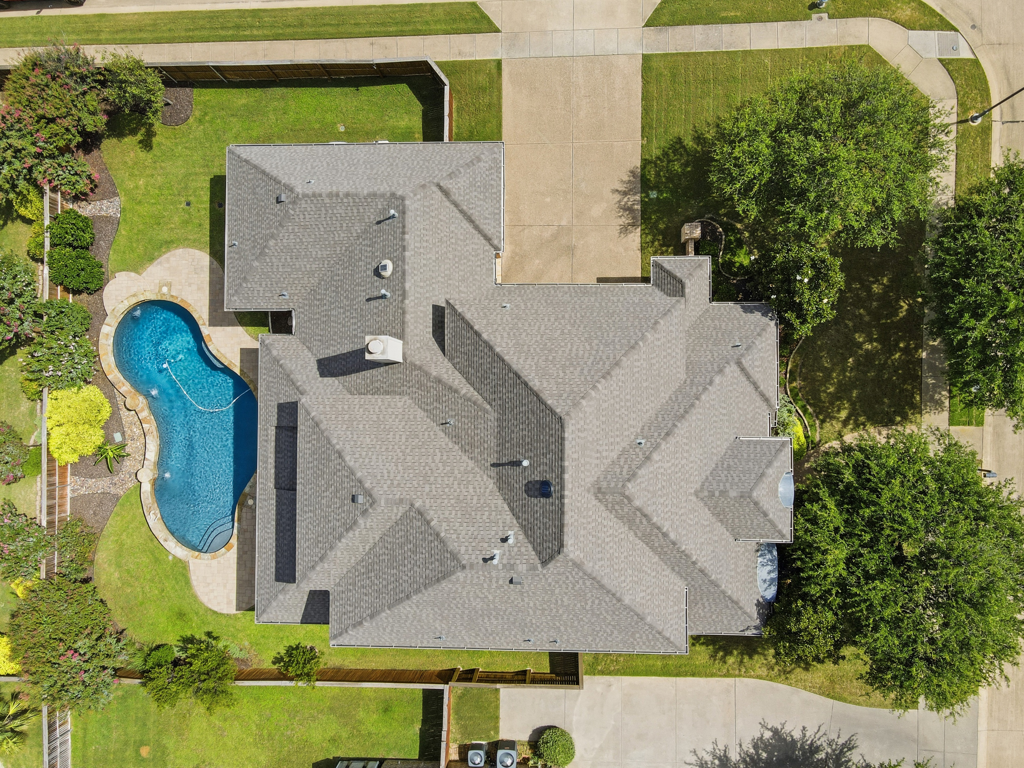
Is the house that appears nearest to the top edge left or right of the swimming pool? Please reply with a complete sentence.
From the viewer's perspective, the house that appears nearest to the top edge falls to the right of the swimming pool.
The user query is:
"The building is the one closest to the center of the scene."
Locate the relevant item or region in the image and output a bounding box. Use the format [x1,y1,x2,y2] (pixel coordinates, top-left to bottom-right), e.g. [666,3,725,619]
[224,141,798,656]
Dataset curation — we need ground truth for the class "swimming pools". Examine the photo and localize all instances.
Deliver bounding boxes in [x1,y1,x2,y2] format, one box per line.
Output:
[96,286,257,562]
